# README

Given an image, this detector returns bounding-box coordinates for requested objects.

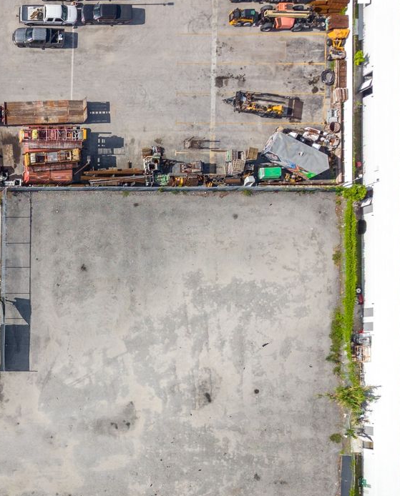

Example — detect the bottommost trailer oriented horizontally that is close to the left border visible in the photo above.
[0,97,86,126]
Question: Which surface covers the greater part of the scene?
paved ground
